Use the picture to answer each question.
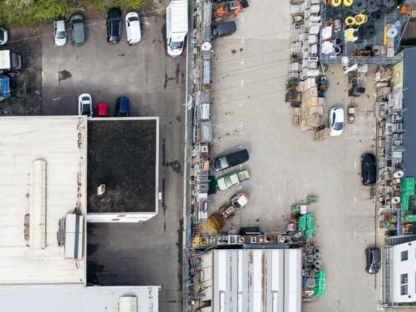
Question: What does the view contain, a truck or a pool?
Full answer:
It is a truck that can be seen here.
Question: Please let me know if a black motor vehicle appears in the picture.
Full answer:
Yes, the frame does contain a black motor vehicle.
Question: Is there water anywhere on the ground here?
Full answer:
No, water can't be seen anywhere here.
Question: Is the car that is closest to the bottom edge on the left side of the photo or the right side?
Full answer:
The car that is closest to the bottom edge is on the right side of the image.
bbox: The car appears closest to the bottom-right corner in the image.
[361,242,381,277]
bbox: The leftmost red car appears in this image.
[93,98,108,117]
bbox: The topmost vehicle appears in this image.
[211,0,249,22]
